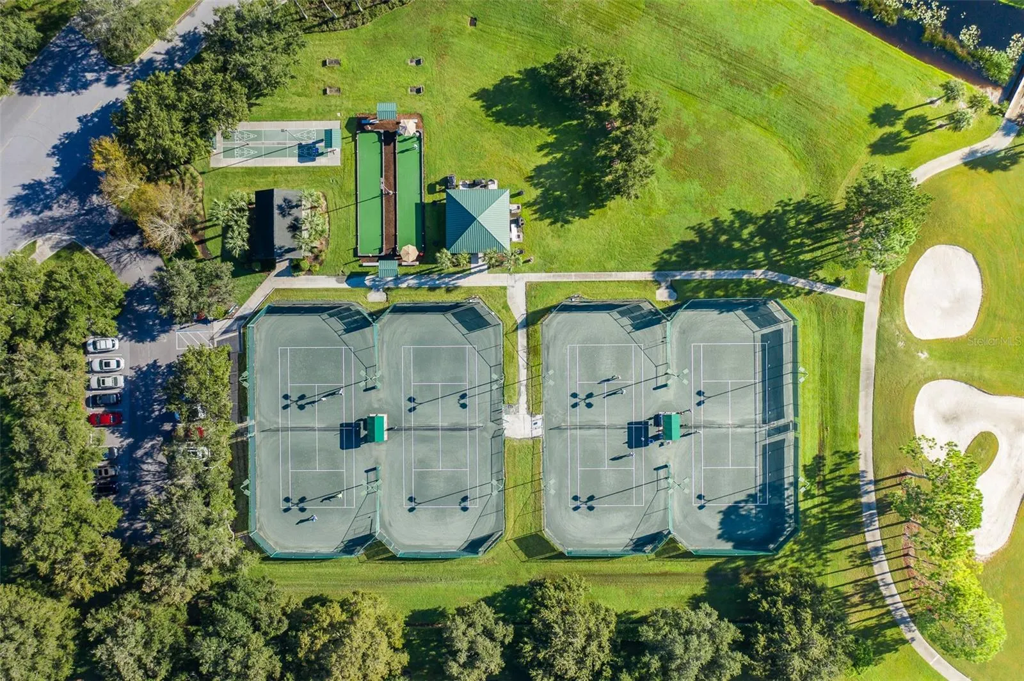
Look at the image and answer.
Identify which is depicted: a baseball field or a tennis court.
tennis court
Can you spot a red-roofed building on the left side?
No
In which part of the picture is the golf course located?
right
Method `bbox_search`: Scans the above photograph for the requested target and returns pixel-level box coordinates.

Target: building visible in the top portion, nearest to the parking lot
[255,186,304,259]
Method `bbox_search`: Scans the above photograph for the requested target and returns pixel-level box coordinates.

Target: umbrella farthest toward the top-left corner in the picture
[398,118,418,138]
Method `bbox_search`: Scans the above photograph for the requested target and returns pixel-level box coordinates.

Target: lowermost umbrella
[401,245,419,263]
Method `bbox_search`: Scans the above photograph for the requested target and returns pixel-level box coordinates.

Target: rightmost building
[446,188,511,253]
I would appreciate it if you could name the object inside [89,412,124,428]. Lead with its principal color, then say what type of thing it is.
red car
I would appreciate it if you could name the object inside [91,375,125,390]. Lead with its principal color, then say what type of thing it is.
white car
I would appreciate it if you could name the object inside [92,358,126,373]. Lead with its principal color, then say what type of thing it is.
white car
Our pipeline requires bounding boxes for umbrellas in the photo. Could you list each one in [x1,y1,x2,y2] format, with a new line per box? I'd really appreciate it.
[398,118,418,138]
[401,245,419,263]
